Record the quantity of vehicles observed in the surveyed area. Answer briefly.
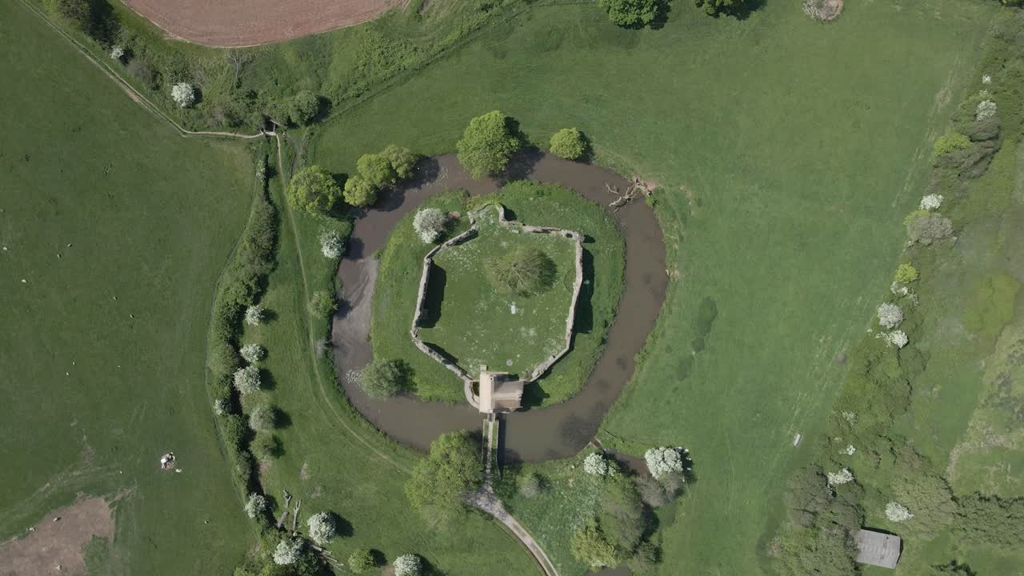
none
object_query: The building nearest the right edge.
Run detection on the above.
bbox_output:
[851,528,901,568]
